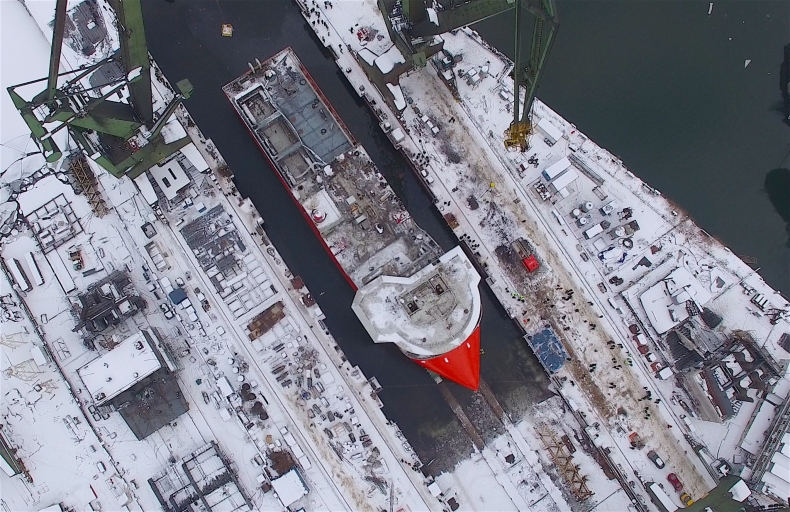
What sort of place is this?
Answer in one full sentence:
It's a port.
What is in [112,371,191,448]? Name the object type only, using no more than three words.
building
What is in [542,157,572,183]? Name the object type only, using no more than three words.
shipping container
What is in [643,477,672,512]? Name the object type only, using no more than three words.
truck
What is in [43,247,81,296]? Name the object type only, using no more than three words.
shed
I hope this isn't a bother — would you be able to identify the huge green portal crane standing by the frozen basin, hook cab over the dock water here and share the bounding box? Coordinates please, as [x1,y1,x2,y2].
[5,0,196,178]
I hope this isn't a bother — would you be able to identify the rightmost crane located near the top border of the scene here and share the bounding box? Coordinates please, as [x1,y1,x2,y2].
[357,0,559,157]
